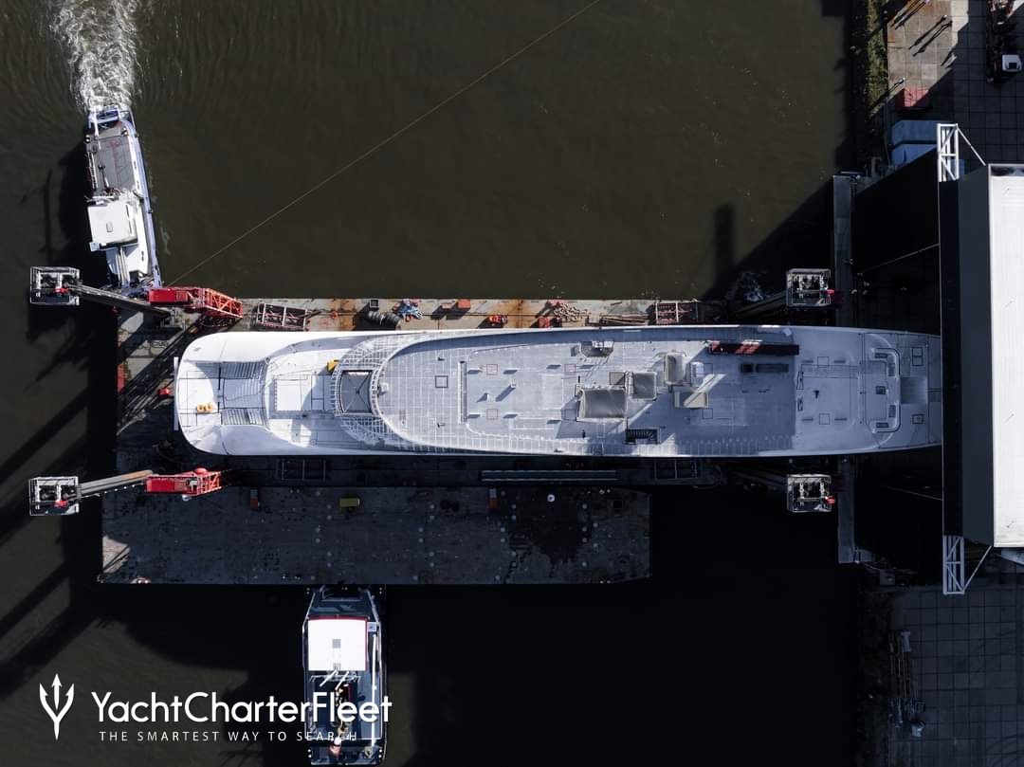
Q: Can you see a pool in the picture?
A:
No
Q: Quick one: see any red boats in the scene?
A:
No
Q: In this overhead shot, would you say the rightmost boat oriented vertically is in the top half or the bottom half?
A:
bottom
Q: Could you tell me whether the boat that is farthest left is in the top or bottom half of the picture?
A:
top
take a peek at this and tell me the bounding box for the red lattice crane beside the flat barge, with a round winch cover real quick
[143,466,220,500]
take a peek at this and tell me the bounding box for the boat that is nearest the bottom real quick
[303,585,386,766]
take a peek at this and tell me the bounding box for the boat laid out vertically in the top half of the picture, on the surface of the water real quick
[86,108,168,291]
